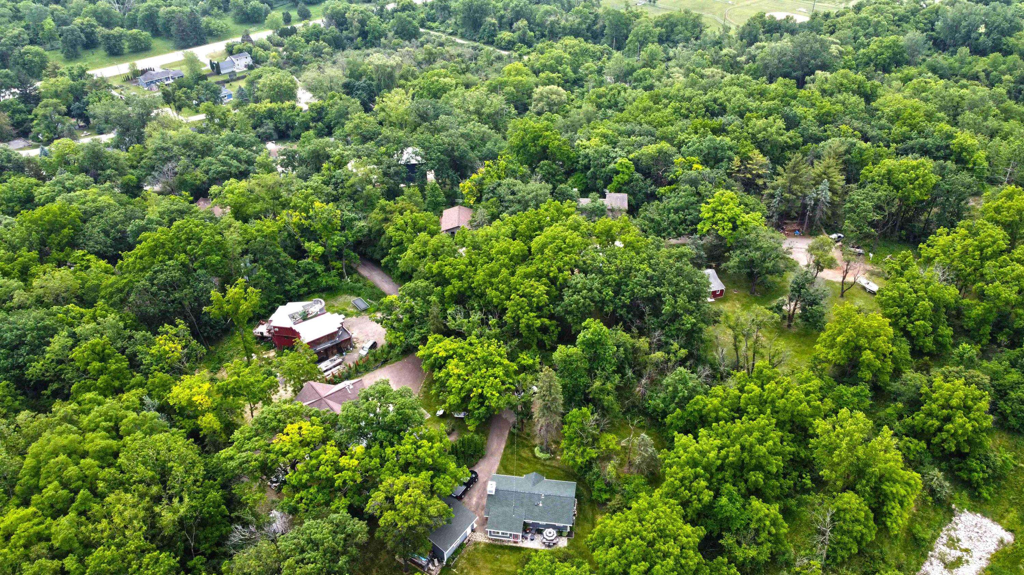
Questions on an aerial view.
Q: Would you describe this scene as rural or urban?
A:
rural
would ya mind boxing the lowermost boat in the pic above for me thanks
[857,274,877,291]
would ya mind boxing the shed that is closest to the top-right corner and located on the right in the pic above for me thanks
[700,273,726,298]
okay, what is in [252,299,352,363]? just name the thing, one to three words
house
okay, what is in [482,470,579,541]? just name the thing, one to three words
building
